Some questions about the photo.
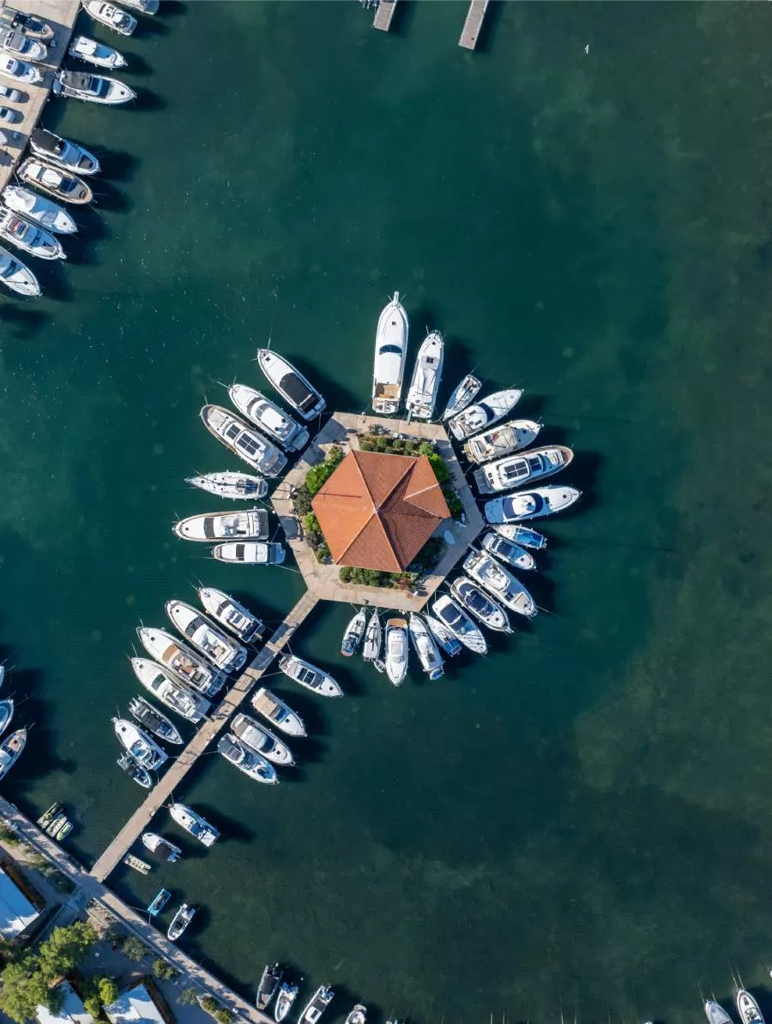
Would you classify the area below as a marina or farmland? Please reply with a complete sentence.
This looks like a marina.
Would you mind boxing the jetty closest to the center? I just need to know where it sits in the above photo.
[271,412,484,611]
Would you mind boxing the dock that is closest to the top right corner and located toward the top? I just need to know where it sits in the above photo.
[458,0,493,53]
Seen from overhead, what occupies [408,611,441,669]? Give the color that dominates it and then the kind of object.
white boat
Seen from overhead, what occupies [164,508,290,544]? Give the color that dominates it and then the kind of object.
white boat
